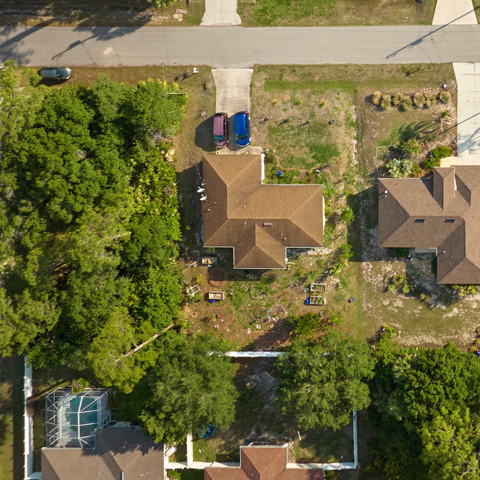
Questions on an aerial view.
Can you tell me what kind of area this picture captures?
residential area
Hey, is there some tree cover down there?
Yes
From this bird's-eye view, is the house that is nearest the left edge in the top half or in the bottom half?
bottom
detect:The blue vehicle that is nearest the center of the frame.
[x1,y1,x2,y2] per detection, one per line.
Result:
[234,112,251,146]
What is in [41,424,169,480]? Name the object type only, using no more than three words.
house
